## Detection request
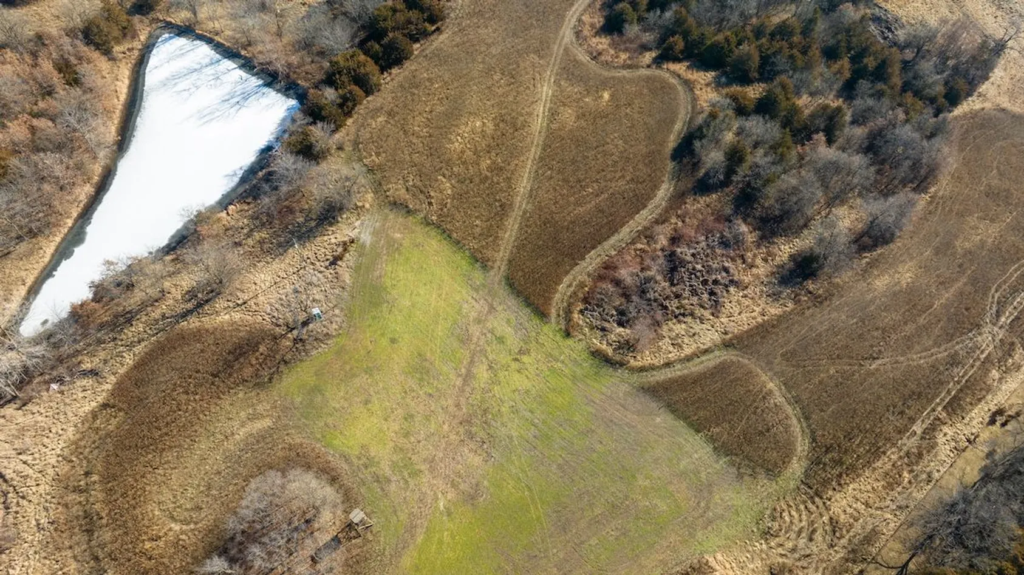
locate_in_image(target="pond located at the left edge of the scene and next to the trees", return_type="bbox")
[9,23,304,342]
